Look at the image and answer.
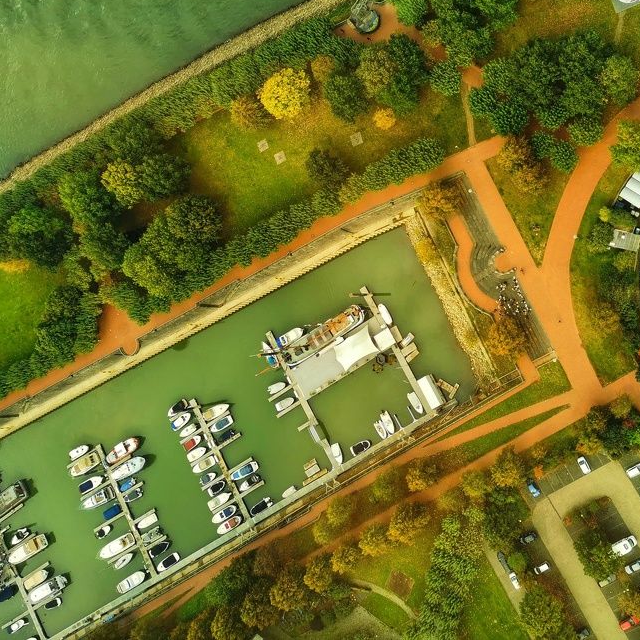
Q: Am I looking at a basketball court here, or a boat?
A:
boat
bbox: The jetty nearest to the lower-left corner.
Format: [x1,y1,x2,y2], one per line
[0,479,64,640]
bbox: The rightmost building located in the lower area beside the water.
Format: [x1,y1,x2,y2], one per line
[416,373,448,409]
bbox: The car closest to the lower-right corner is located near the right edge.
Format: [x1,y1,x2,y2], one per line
[619,615,640,631]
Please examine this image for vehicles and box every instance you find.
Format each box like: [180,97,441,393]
[576,628,591,640]
[624,559,640,575]
[598,573,617,587]
[528,481,539,498]
[533,561,551,575]
[508,572,522,591]
[520,532,537,544]
[625,463,640,477]
[611,534,638,557]
[577,456,590,474]
[619,615,640,631]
